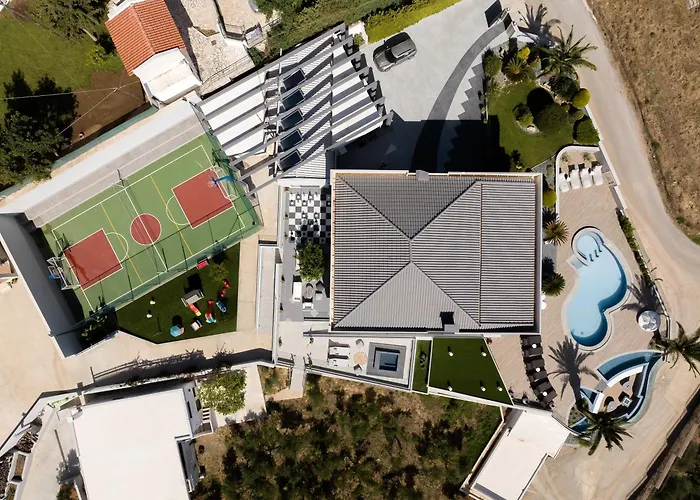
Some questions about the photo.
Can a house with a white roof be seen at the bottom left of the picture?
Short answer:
Yes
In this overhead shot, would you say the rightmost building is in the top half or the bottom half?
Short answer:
bottom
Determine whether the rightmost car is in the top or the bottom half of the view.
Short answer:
top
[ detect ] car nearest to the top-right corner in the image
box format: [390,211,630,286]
[373,32,418,70]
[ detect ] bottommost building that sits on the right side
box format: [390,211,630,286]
[453,410,572,500]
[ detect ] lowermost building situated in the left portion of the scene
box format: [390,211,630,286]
[70,374,218,500]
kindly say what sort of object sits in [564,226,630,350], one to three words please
swimming pool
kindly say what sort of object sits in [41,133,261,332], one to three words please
sports court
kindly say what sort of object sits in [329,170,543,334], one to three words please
house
